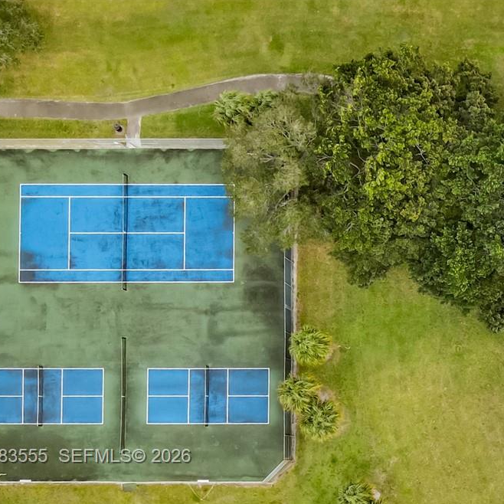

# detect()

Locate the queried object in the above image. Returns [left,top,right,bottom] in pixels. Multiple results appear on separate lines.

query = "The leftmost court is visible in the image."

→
[0,369,103,424]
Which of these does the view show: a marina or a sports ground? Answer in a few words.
sports ground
